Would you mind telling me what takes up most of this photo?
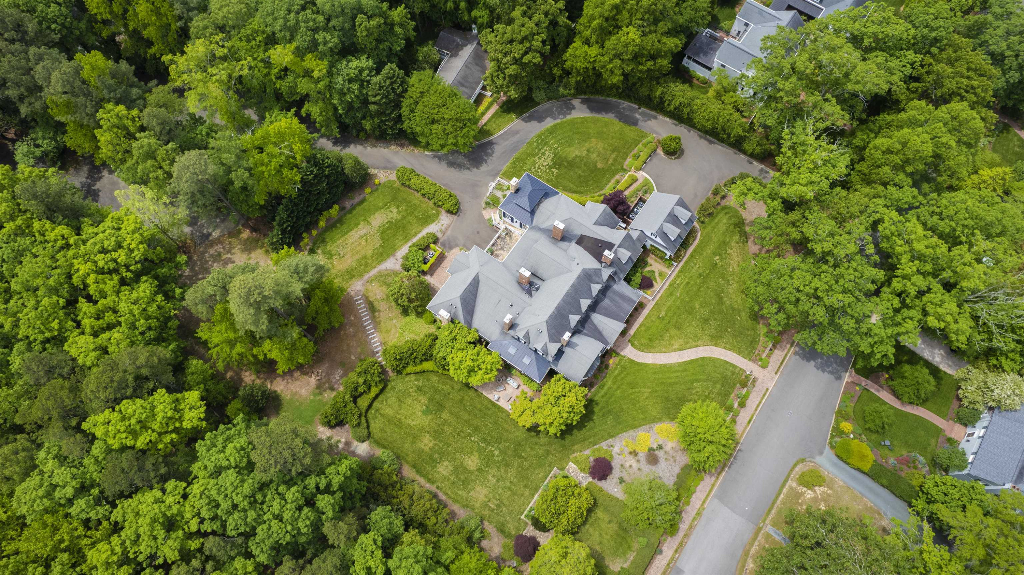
trees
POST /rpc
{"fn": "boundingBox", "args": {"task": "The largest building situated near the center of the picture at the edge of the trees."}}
[426,172,648,381]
